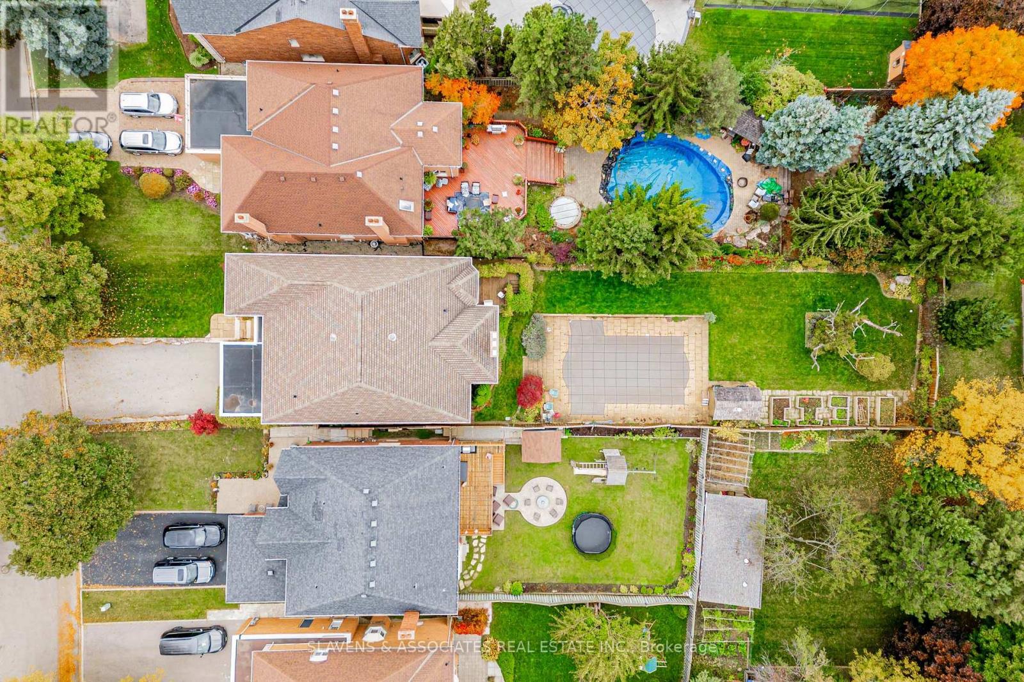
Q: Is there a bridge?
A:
No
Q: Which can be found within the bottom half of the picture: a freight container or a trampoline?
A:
trampoline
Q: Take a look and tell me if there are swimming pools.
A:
Yes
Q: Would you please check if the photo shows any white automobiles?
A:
Yes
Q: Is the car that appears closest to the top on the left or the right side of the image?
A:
left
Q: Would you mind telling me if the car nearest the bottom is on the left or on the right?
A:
left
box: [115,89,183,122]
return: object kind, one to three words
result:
car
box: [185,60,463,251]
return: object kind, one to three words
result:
house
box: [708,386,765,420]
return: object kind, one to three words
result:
shed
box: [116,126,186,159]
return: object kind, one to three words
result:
car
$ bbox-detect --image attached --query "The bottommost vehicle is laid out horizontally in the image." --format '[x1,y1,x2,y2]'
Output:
[157,621,230,657]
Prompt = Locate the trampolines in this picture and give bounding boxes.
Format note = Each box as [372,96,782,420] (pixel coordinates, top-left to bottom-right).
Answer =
[569,516,615,566]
